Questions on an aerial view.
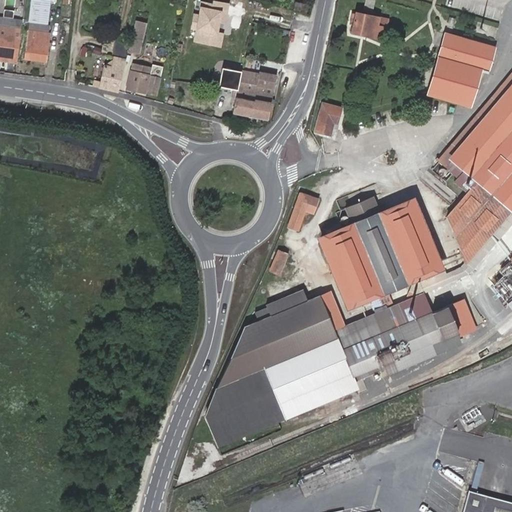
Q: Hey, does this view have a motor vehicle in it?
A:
Yes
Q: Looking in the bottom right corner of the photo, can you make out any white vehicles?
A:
Yes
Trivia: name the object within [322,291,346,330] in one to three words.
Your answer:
shed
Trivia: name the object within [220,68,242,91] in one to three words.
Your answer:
building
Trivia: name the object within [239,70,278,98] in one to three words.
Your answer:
house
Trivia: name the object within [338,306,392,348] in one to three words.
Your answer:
building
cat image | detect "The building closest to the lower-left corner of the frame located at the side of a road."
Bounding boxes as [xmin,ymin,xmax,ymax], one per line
[204,368,286,450]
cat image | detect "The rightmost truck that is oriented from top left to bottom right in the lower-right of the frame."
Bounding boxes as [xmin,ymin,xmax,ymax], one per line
[434,461,466,486]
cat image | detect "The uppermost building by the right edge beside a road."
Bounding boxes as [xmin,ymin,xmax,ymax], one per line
[428,30,498,108]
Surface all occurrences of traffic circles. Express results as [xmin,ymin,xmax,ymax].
[170,142,282,254]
